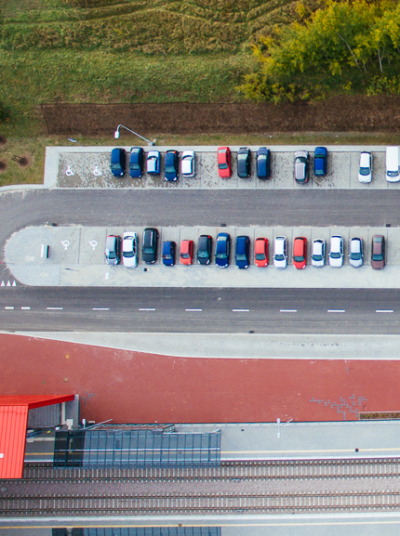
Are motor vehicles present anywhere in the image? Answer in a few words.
Yes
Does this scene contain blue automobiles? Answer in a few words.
Yes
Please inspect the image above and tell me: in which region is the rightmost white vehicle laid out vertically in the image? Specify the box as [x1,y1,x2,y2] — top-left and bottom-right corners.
[385,145,400,183]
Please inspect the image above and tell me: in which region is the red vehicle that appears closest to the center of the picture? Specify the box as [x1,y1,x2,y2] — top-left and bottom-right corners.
[178,240,195,265]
